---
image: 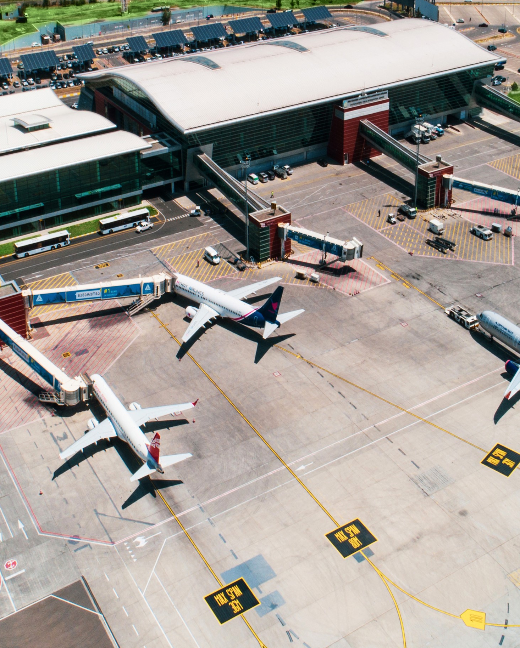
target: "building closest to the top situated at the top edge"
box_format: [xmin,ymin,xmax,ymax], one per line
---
[0,1,23,19]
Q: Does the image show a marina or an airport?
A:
airport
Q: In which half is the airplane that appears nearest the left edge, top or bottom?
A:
bottom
